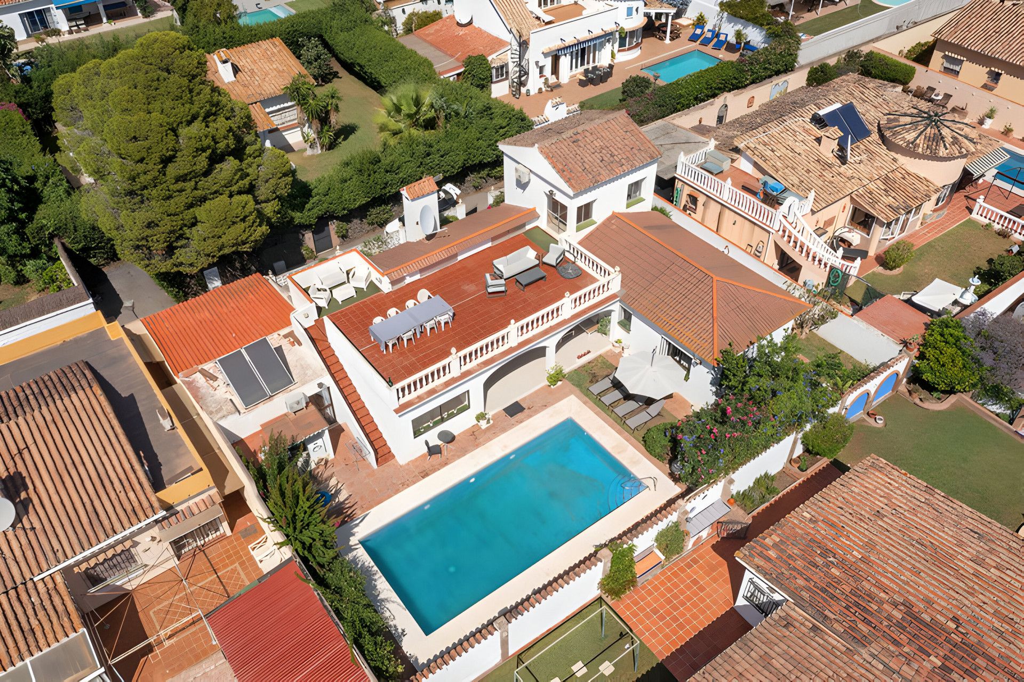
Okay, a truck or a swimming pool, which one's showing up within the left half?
swimming pool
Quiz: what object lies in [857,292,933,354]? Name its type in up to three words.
shed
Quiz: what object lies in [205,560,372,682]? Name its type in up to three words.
shed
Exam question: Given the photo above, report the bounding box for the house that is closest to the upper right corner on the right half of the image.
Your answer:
[925,0,1024,100]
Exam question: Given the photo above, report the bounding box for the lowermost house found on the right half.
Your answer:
[695,453,1024,682]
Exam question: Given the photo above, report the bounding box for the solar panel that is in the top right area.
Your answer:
[807,100,869,143]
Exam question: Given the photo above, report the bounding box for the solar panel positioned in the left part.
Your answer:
[214,336,298,408]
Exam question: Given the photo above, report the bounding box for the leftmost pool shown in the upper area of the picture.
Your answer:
[232,3,299,27]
